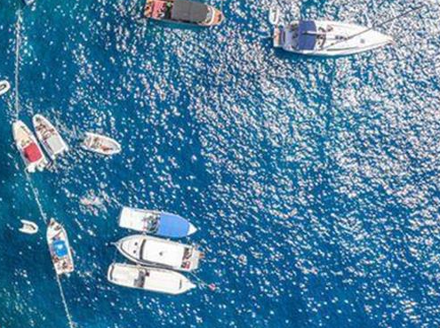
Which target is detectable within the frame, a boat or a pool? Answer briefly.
boat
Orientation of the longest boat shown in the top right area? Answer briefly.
from left to right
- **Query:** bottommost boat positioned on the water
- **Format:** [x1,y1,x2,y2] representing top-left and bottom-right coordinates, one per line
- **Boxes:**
[103,262,197,299]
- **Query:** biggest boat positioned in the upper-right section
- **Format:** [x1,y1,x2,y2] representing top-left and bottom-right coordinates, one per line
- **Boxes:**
[266,6,425,55]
